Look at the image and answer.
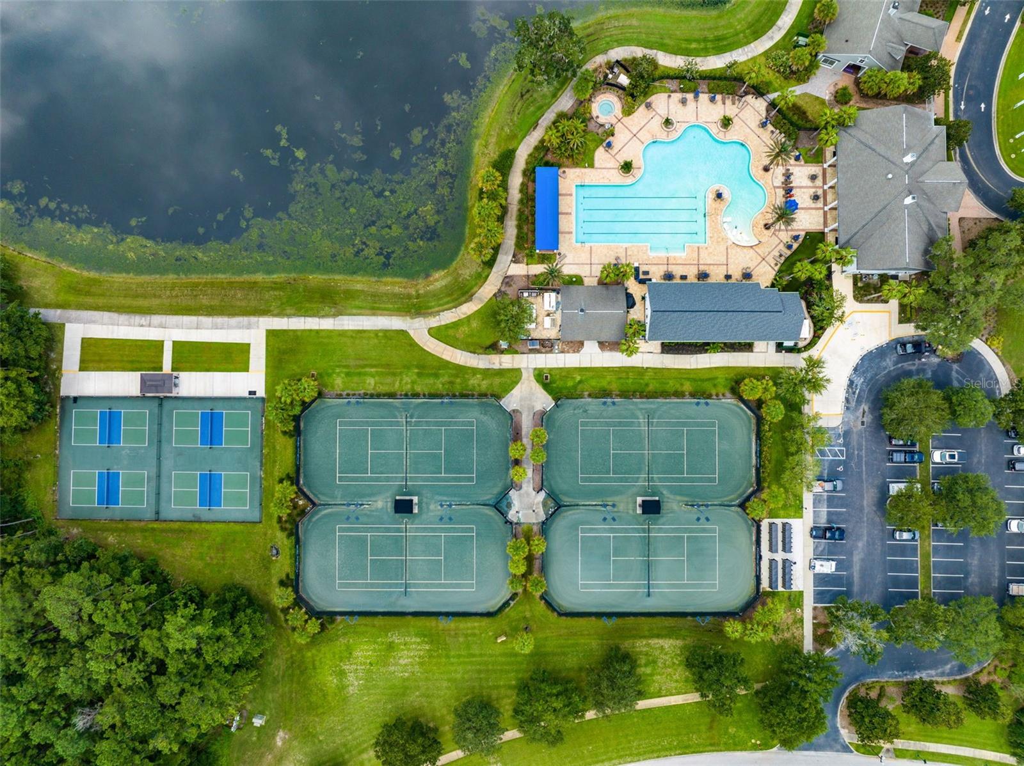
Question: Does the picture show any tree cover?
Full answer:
Yes, the picture does contain tree cover.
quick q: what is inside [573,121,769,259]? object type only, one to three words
swimming pool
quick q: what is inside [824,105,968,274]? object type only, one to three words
building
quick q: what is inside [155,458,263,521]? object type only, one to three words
sports court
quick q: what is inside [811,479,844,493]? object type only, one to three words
vehicle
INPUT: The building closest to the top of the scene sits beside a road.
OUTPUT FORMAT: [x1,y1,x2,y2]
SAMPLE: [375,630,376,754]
[815,0,949,78]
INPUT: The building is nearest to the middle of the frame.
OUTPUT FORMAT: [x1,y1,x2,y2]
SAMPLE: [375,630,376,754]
[561,285,627,341]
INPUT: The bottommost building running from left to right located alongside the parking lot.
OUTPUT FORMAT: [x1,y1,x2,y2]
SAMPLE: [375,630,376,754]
[646,282,812,345]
